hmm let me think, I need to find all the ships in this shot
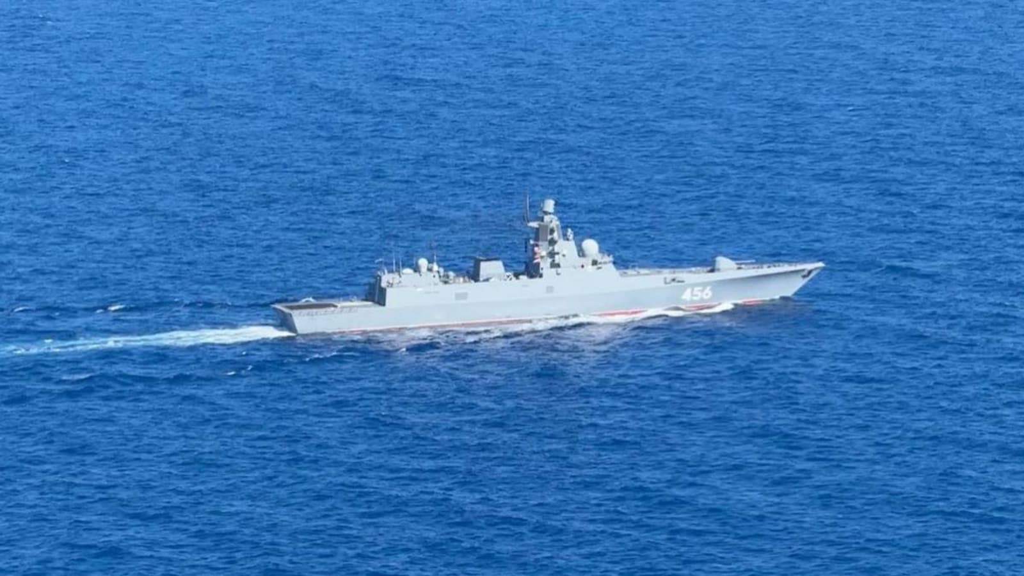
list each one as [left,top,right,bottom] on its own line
[273,199,825,334]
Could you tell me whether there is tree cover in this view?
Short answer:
No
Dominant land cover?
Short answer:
water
